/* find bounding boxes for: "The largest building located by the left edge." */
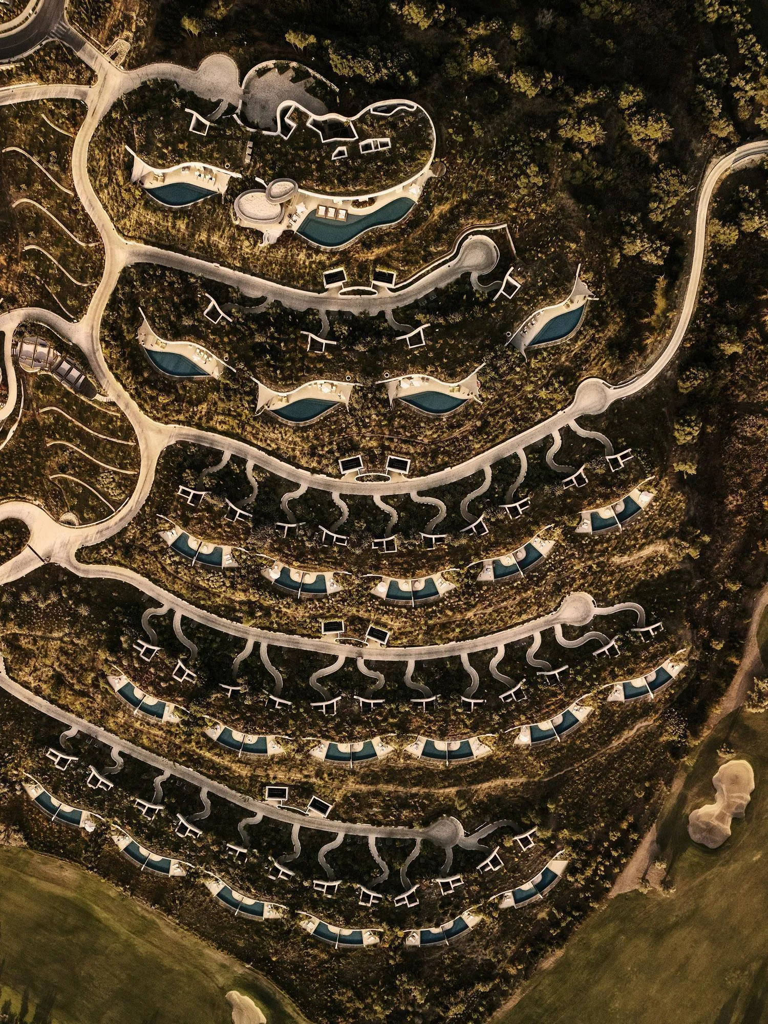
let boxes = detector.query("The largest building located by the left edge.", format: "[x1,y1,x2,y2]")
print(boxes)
[18,335,112,404]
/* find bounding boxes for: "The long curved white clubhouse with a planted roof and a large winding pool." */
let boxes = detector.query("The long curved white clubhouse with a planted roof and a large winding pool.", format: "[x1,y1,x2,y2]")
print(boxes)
[232,98,438,253]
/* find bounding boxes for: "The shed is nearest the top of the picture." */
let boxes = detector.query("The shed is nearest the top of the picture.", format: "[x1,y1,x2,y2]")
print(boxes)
[105,38,133,69]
